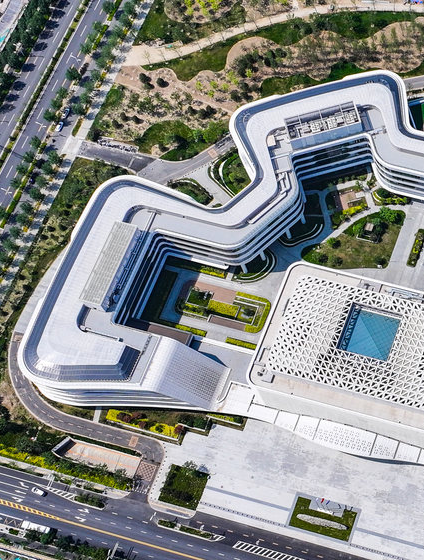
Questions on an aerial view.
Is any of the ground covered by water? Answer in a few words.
No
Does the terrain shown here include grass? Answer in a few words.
Yes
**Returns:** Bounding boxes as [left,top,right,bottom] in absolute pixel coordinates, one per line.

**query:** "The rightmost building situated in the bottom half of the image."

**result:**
[249,261,424,449]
